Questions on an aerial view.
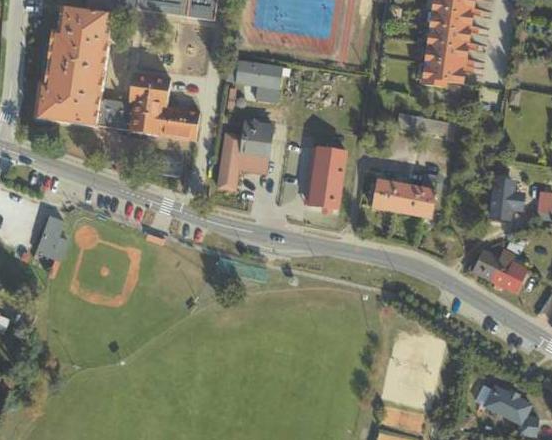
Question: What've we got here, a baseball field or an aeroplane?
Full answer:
This aerial view contains a baseball field.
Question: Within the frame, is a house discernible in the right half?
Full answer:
Yes, a house is visible in the right half.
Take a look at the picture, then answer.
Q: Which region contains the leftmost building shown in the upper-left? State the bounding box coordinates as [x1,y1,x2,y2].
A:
[36,6,109,128]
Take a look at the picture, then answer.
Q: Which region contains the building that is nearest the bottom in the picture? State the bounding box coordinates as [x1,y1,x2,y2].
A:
[477,383,539,437]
